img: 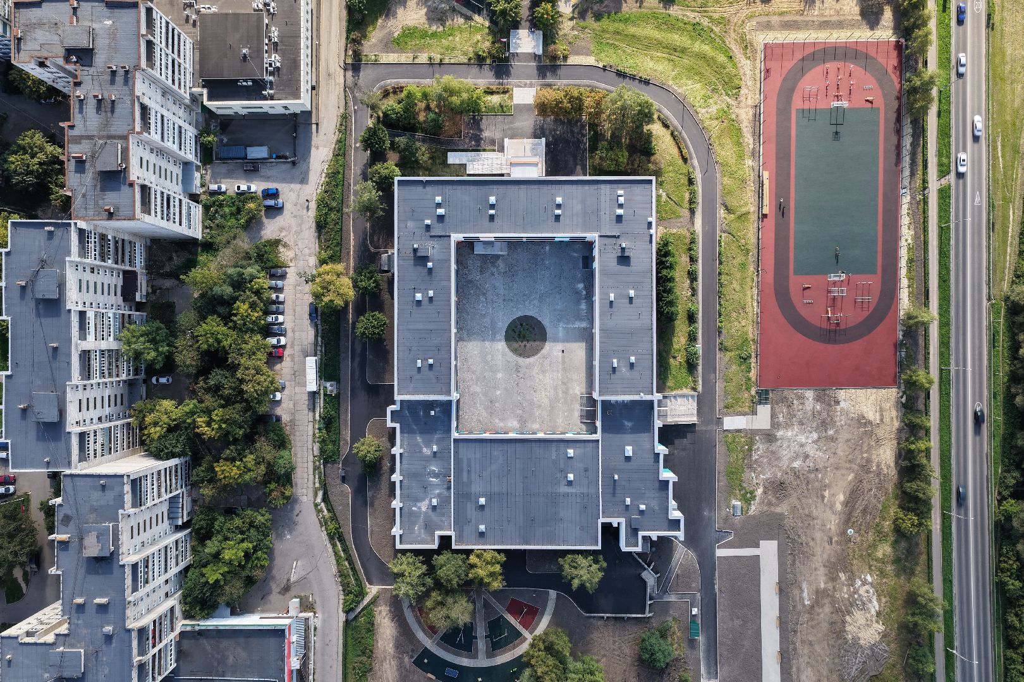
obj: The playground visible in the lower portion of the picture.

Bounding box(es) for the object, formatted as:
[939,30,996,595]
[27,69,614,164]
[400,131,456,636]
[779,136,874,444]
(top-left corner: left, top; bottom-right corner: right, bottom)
[402,588,557,682]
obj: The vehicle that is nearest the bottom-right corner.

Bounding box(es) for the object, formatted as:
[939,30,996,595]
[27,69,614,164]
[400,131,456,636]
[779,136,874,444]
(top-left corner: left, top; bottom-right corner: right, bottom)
[955,484,969,506]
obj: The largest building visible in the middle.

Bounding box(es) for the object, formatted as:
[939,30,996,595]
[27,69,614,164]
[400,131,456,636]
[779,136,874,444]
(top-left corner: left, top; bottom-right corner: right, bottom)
[381,138,701,552]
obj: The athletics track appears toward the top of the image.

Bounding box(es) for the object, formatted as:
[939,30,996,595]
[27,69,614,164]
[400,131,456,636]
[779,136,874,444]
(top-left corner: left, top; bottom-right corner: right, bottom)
[774,46,899,344]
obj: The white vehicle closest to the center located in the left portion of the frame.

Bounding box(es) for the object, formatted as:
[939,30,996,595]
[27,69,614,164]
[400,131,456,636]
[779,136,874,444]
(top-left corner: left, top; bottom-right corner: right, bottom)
[305,358,319,390]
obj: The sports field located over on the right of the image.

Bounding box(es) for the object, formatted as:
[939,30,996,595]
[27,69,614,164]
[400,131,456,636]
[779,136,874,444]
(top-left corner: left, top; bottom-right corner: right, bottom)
[794,107,880,275]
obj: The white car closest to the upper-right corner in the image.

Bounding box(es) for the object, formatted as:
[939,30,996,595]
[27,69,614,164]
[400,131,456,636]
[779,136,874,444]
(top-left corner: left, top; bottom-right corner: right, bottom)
[956,54,968,76]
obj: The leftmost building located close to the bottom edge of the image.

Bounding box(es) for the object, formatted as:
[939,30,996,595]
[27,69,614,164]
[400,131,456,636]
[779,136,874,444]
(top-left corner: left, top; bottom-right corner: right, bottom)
[0,455,195,682]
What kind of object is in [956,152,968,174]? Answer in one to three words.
vehicle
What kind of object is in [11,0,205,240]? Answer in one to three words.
building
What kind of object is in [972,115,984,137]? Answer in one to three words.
vehicle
